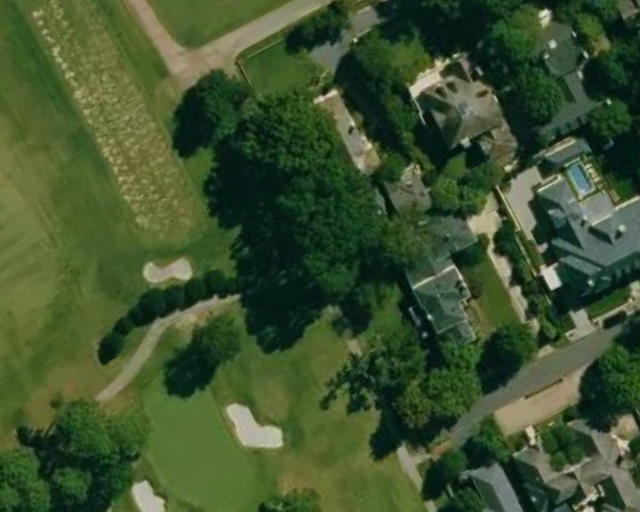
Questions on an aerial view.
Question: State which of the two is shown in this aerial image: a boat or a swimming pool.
swimming pool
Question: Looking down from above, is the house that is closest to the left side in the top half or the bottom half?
top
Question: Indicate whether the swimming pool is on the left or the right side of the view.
right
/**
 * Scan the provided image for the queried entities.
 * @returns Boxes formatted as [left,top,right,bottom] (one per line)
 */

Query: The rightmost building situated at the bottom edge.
[507,412,640,512]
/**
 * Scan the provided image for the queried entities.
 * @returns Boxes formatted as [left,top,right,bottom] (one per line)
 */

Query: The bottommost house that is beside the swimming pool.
[538,182,640,297]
